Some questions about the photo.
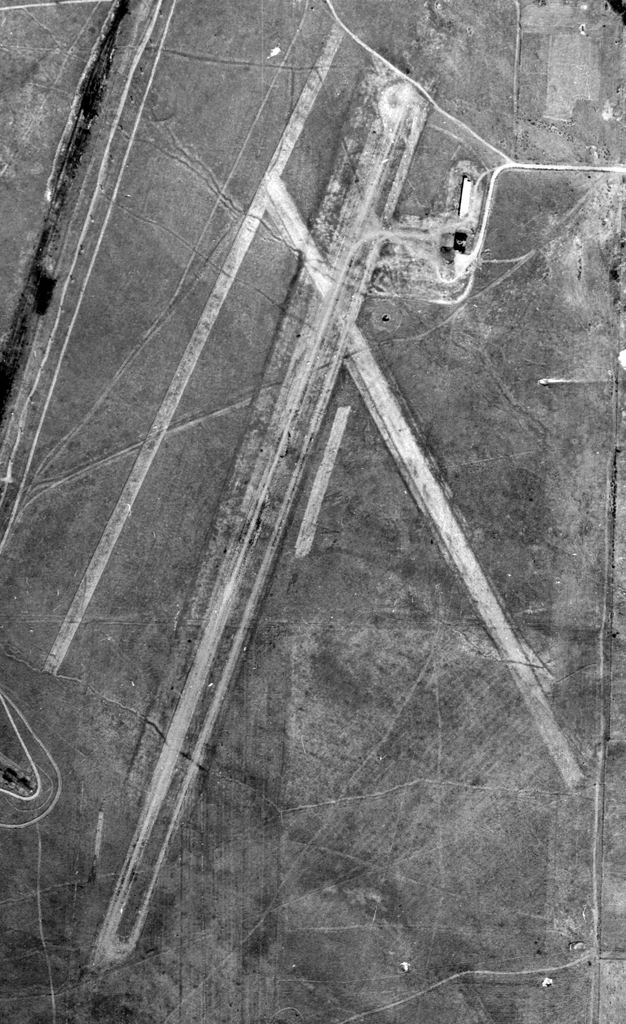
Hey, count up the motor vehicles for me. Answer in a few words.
0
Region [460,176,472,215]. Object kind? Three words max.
hangar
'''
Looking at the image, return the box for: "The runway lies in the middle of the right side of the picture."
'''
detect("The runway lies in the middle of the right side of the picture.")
[349,324,587,789]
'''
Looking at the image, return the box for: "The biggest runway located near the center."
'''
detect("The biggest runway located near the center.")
[93,79,428,963]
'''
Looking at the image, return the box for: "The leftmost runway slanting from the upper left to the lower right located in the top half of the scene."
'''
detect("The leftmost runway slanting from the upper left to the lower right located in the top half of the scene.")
[260,173,334,293]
